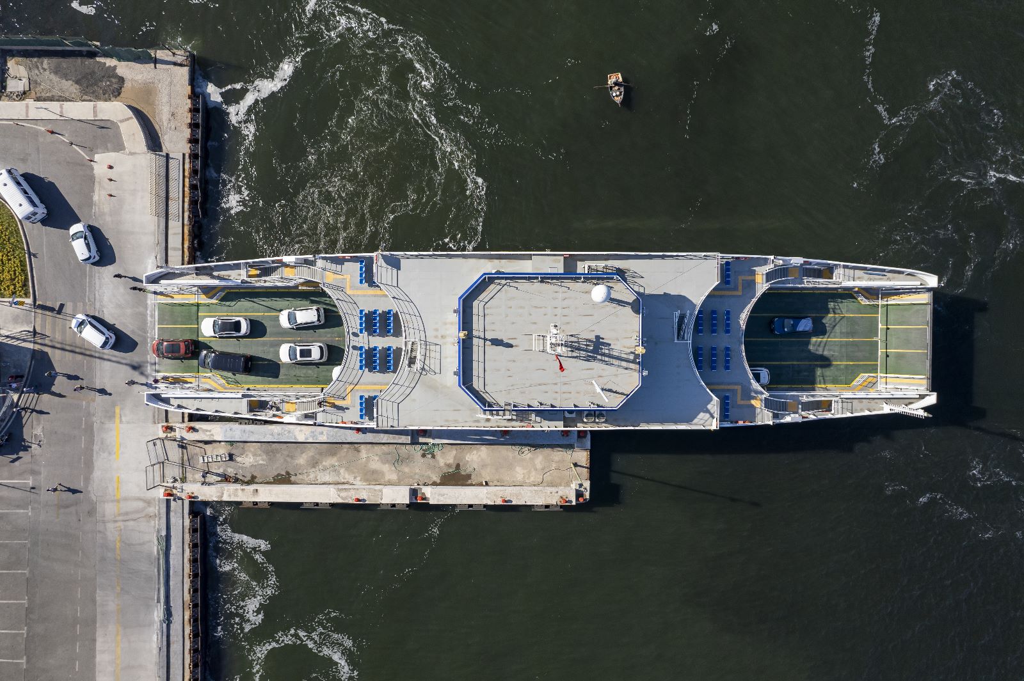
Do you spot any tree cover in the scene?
No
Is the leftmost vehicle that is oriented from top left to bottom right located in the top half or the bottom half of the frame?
top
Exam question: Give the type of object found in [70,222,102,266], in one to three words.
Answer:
car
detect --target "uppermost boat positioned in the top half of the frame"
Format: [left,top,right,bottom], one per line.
[592,70,632,106]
